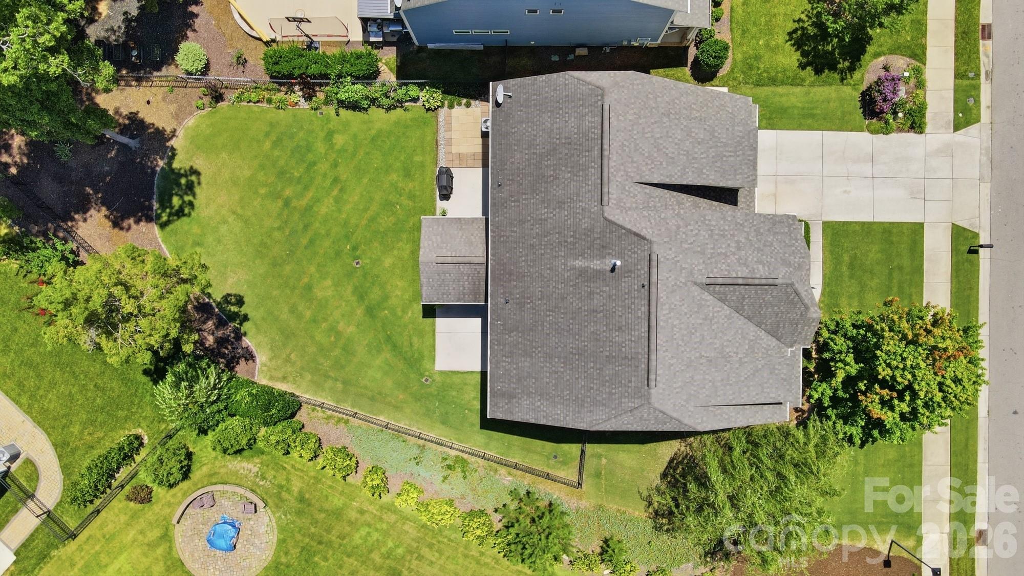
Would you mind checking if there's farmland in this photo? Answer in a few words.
No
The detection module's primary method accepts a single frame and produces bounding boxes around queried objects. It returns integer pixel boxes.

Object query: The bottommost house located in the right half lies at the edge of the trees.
[420,69,822,432]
